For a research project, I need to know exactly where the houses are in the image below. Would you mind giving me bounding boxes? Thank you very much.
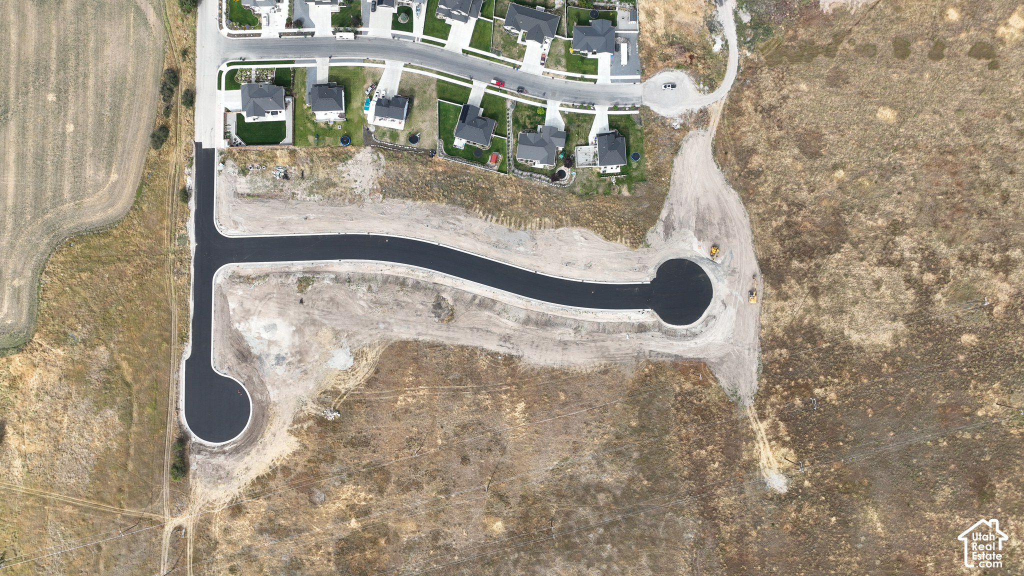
[374,95,409,121]
[435,0,481,24]
[304,0,340,7]
[241,0,276,8]
[503,3,560,46]
[310,80,345,114]
[241,81,285,117]
[377,0,413,9]
[597,130,626,166]
[454,101,496,147]
[516,125,567,165]
[573,16,615,57]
